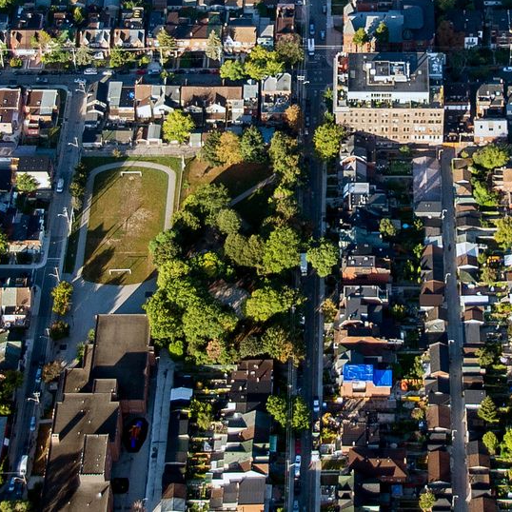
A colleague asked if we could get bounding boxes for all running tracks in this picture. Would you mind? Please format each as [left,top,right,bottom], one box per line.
[69,161,178,287]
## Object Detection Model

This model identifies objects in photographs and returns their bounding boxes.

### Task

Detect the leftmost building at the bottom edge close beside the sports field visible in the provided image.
[45,315,149,512]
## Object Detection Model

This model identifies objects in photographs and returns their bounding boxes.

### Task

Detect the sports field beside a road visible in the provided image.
[84,167,168,284]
